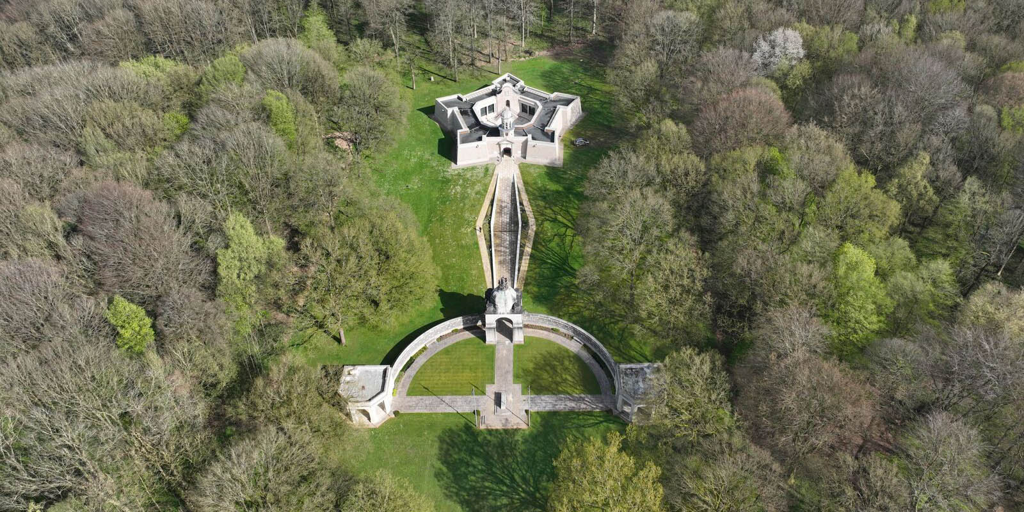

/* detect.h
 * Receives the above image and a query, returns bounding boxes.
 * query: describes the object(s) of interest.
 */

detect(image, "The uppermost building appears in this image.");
[433,73,583,165]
